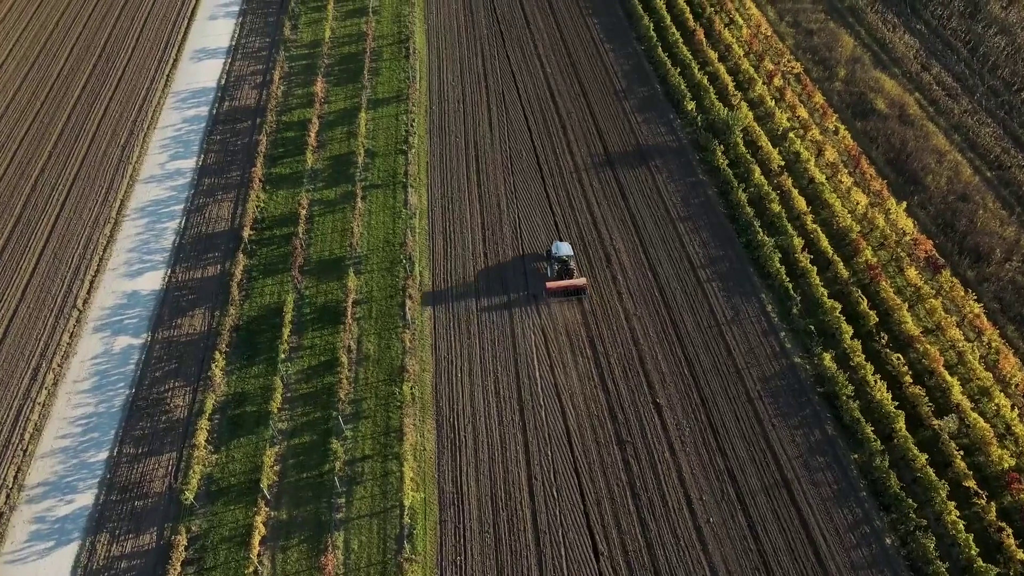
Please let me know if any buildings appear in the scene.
No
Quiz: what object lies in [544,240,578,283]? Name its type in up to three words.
work vehicle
